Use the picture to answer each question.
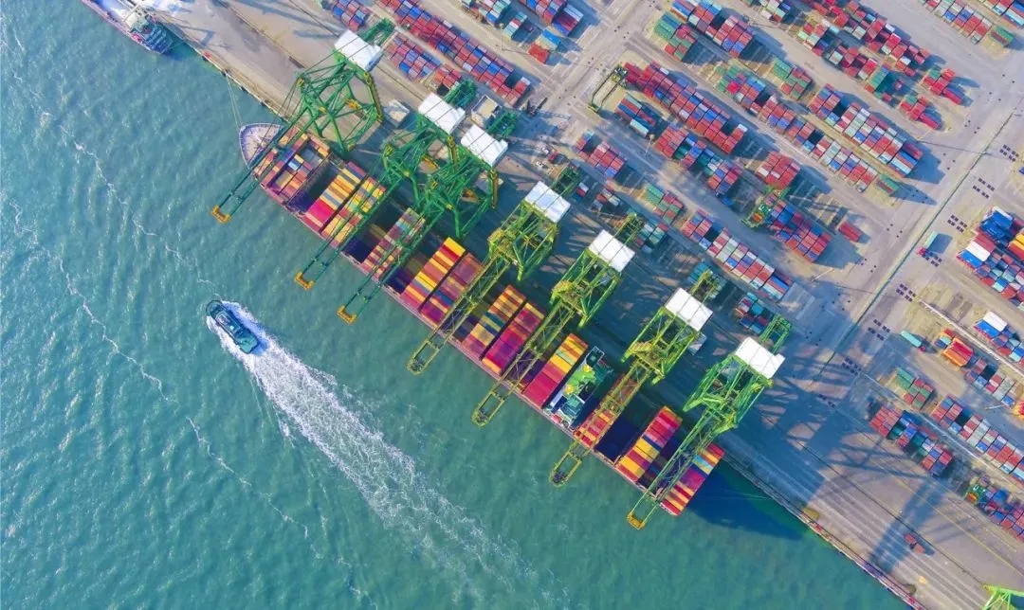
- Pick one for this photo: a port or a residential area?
port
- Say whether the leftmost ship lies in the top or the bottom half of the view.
top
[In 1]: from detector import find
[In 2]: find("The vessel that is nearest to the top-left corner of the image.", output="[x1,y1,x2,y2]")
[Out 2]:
[82,0,176,57]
